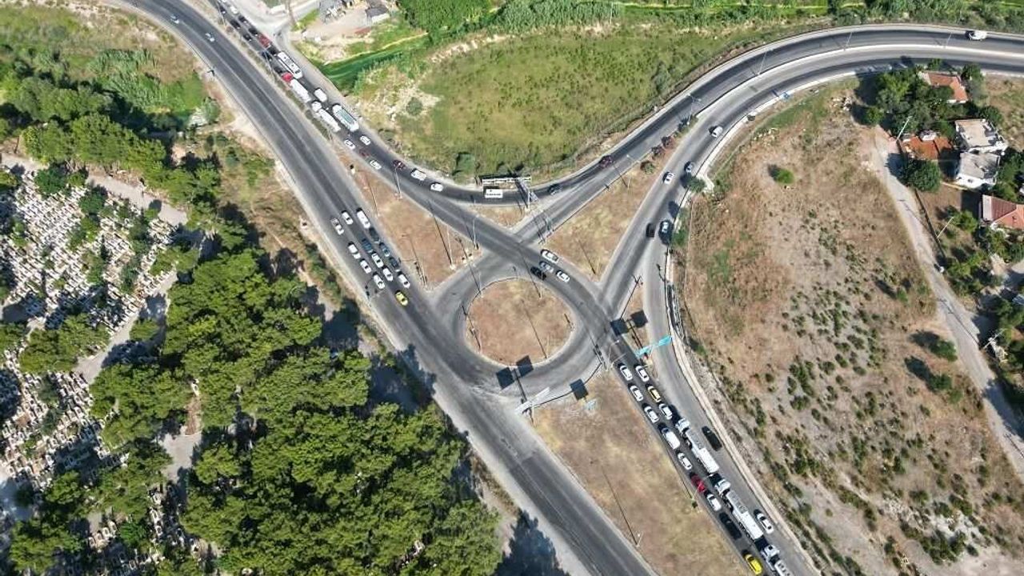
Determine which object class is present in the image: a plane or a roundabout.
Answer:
roundabout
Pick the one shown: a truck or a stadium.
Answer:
truck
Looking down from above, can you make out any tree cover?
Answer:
Yes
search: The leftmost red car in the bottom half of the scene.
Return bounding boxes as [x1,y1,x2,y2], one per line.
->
[688,471,706,493]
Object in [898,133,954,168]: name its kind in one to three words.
house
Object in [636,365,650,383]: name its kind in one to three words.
car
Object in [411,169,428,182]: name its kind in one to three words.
vehicle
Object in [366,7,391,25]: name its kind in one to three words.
shed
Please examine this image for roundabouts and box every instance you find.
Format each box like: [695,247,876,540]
[437,257,603,394]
